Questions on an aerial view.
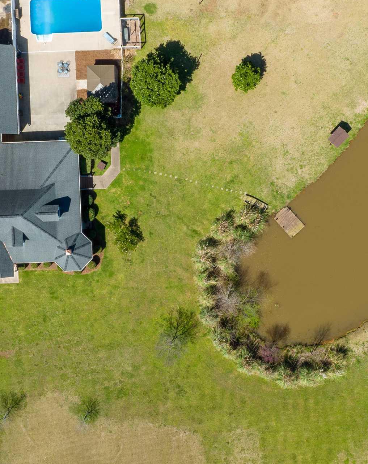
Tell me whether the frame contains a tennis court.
No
